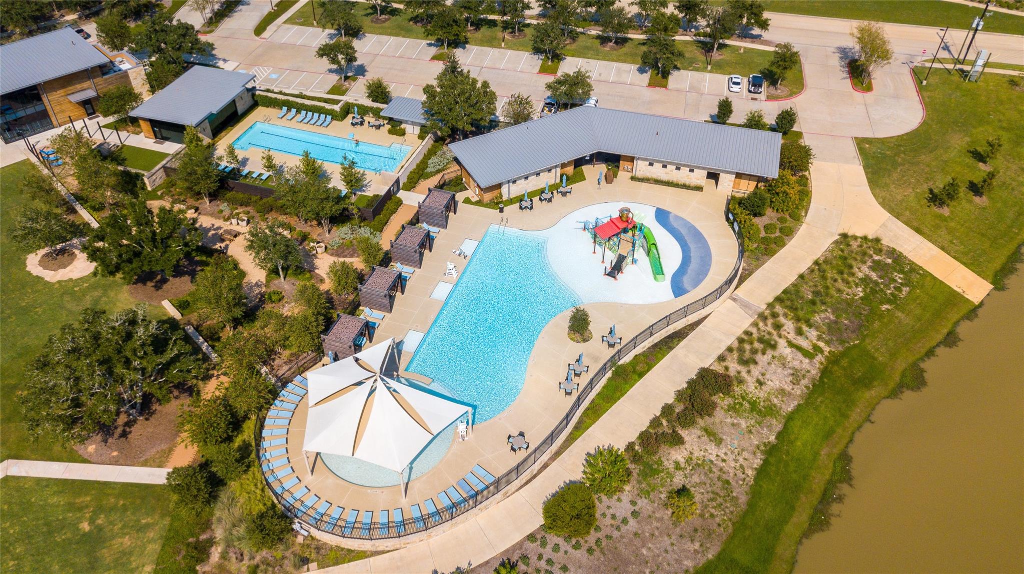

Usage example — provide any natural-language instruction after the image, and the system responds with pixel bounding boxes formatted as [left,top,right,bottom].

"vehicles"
[728,75,744,93]
[538,95,559,117]
[748,75,764,93]
[66,18,89,36]
[585,93,602,106]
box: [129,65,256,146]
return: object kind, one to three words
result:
building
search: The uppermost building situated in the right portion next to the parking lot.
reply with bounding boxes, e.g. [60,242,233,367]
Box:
[448,104,782,202]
